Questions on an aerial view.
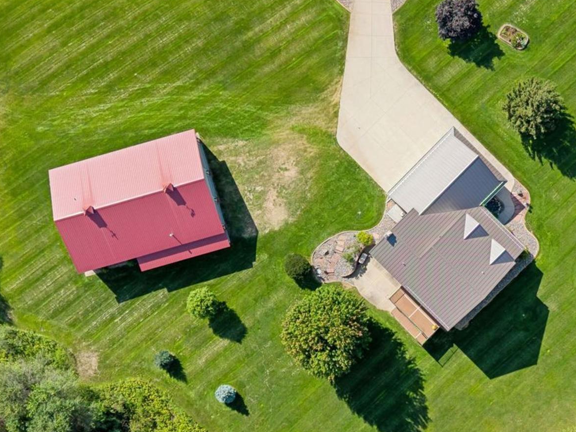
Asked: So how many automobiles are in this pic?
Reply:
0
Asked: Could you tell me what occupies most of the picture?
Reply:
grass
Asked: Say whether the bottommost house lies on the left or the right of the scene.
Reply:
right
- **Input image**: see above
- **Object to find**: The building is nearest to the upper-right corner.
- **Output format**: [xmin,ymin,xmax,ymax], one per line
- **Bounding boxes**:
[386,127,508,214]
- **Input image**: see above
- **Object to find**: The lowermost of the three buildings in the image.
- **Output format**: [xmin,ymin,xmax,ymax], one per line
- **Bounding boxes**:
[369,202,523,332]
